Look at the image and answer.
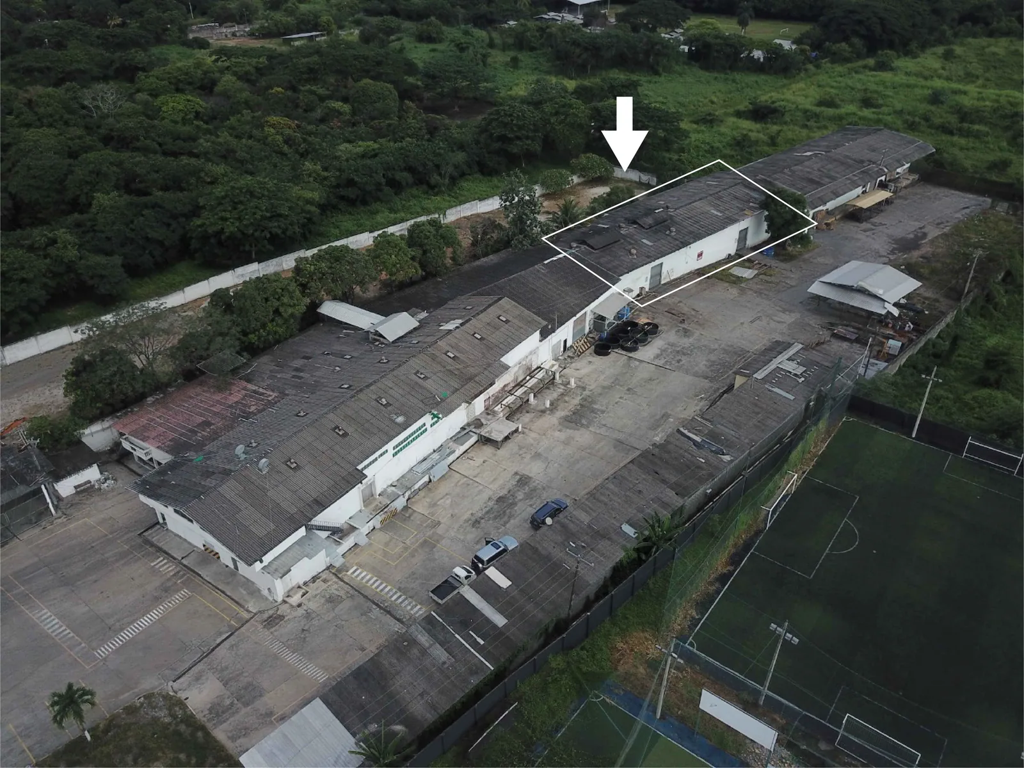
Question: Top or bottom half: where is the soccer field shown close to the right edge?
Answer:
bottom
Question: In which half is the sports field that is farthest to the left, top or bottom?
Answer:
bottom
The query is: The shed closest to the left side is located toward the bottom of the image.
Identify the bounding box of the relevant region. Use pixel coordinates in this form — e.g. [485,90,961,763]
[0,444,56,510]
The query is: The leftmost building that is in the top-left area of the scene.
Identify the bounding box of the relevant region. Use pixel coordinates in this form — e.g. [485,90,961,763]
[189,18,252,40]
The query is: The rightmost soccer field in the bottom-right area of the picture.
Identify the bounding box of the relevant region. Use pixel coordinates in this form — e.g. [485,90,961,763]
[691,417,1024,768]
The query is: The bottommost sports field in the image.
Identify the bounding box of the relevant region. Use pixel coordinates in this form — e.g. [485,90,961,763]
[535,693,713,768]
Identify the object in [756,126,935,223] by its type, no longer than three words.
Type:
building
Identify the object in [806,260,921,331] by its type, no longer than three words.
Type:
shed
